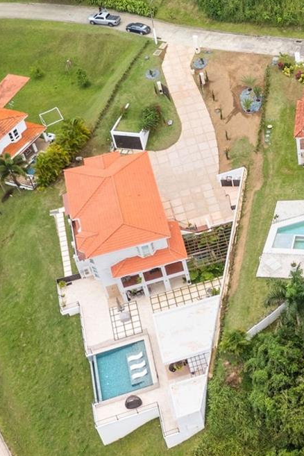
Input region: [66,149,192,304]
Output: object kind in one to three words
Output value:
house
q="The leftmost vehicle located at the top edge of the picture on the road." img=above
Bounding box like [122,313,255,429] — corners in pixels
[88,10,119,25]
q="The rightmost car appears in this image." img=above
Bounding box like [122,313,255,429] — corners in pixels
[124,21,150,34]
